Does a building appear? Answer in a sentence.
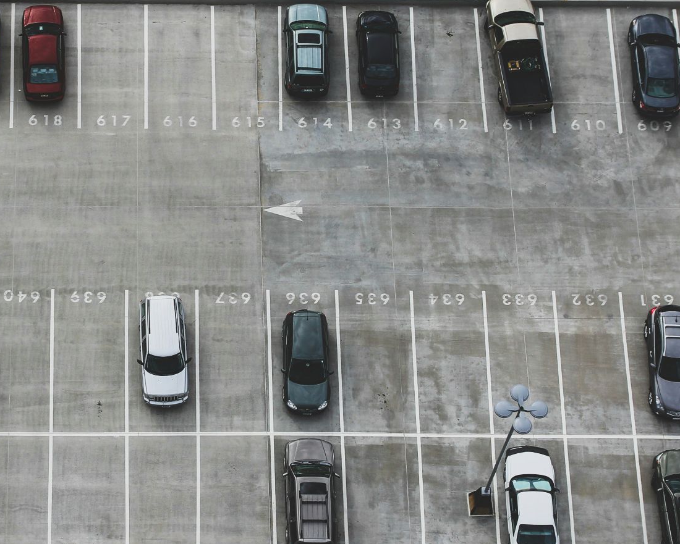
No, no building can be seen from above.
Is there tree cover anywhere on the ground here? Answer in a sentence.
No, the picture contains no tree cover.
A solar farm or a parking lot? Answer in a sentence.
What you see here is a parking lot.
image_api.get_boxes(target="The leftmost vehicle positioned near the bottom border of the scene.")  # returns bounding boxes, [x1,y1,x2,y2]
[281,441,343,544]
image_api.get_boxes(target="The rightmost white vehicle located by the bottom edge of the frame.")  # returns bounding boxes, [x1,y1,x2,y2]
[503,447,561,544]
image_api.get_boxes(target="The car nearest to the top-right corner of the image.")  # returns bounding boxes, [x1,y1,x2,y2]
[628,15,680,113]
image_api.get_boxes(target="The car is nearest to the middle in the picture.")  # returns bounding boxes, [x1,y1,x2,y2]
[278,307,336,417]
